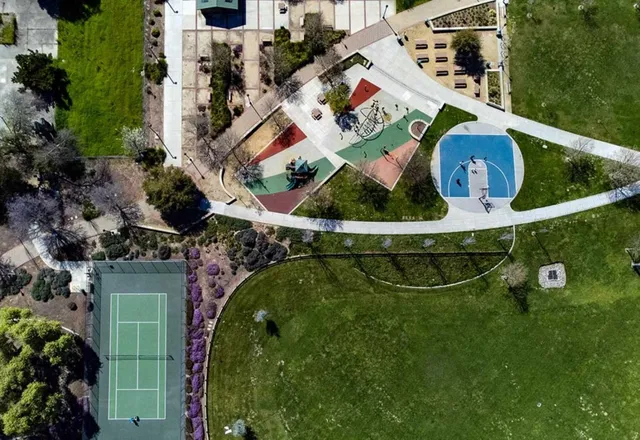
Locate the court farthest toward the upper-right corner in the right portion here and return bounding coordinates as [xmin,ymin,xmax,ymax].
[431,121,524,213]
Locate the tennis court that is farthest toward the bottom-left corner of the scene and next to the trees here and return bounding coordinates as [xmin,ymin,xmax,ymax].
[88,262,186,440]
